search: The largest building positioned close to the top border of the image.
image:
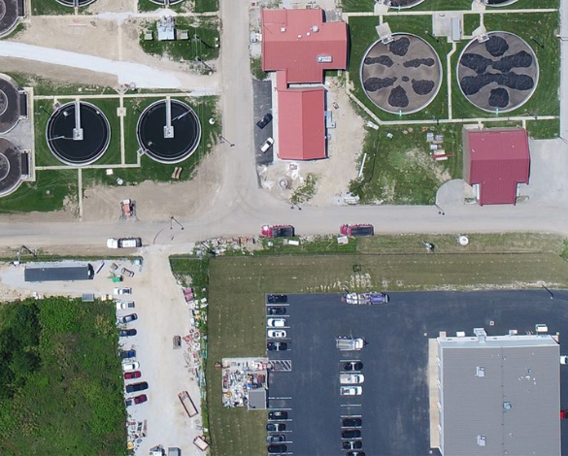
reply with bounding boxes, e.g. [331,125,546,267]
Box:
[261,8,349,84]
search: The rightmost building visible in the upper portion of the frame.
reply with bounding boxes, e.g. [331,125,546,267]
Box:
[465,126,531,206]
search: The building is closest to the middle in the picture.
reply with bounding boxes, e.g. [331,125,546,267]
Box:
[277,87,327,163]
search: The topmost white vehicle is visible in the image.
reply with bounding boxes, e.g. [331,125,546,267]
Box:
[259,136,275,153]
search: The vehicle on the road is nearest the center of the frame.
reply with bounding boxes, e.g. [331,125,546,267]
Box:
[263,225,295,238]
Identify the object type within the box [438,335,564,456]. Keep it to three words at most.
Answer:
warehouse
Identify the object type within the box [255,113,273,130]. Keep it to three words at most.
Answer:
vehicle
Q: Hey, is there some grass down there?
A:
Yes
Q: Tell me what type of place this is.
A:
industrial area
